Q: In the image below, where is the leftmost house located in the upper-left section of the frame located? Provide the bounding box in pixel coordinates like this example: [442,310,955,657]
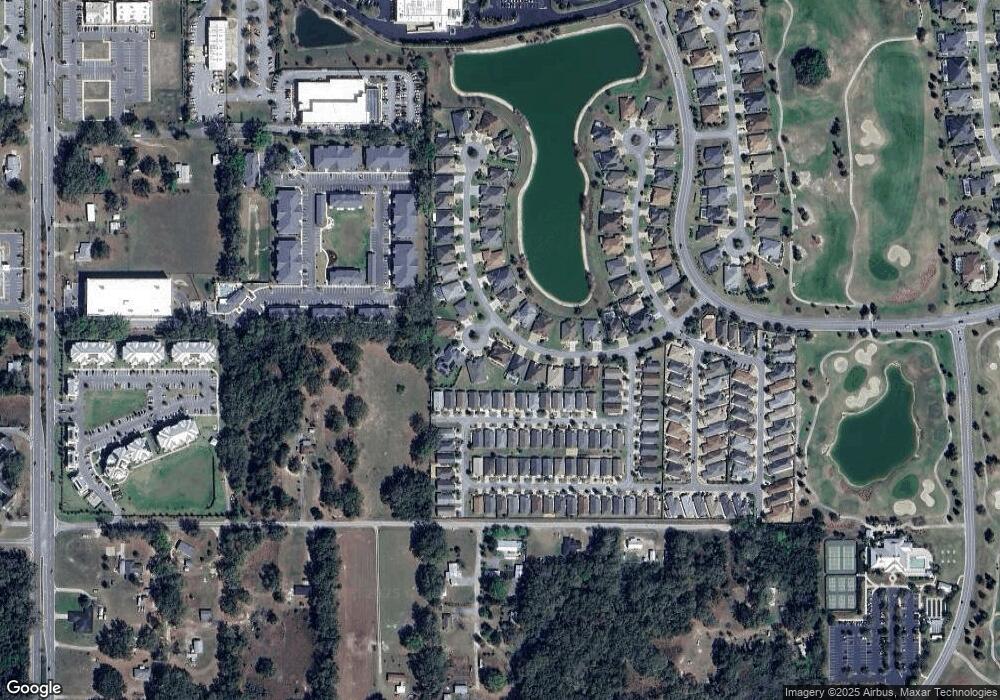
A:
[4,153,21,179]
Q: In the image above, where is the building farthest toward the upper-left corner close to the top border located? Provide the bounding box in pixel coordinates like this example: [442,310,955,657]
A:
[84,1,110,24]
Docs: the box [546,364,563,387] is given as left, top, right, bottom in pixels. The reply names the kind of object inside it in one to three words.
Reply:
house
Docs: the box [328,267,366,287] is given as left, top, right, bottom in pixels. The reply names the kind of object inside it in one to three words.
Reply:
building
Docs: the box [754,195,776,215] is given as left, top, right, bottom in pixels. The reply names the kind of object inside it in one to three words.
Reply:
house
